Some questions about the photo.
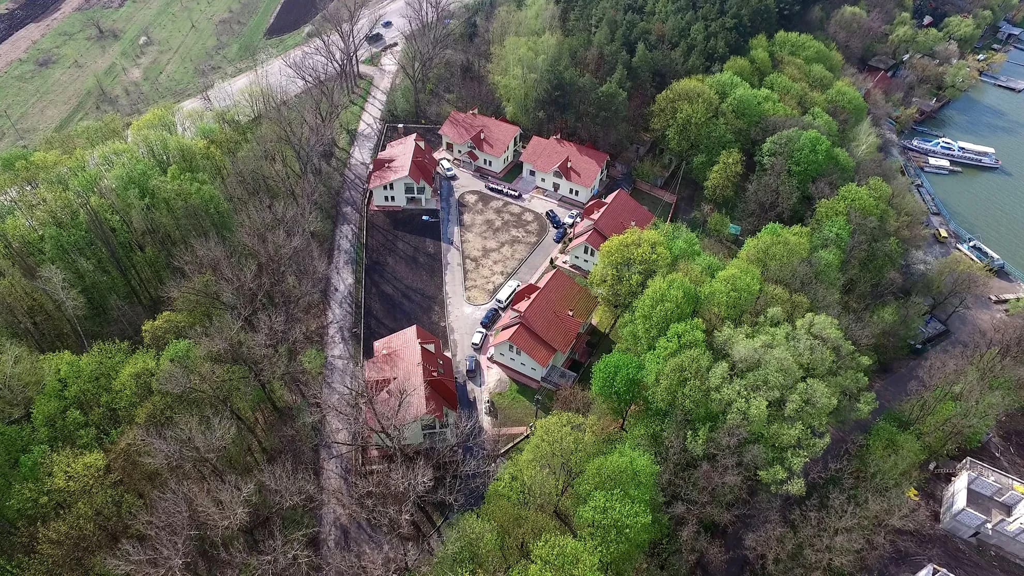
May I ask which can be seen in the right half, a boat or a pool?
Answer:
boat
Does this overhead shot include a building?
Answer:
Yes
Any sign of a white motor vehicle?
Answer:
Yes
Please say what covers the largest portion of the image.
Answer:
trees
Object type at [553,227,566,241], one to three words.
vehicle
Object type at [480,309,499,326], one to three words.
car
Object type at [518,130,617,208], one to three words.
house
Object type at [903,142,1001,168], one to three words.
boat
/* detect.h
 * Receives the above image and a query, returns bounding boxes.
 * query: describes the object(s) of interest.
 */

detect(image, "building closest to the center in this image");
[486,269,600,390]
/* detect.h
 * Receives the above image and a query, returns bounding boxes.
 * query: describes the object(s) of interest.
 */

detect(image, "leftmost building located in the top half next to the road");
[367,133,438,209]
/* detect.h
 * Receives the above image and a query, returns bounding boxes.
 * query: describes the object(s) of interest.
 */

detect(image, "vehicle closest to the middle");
[496,282,519,307]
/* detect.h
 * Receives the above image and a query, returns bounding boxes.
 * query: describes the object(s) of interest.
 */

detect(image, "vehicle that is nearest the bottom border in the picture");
[466,356,478,376]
